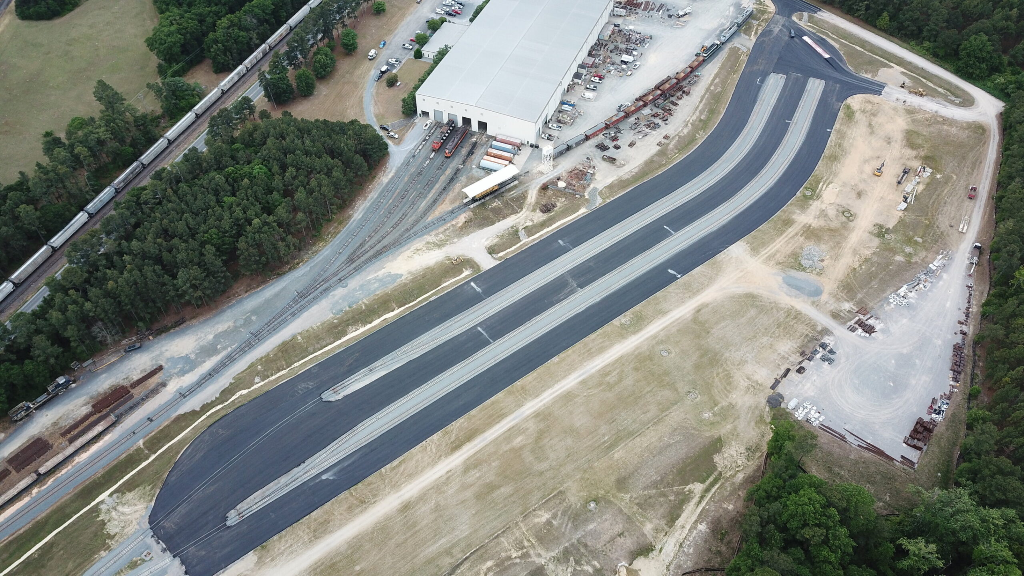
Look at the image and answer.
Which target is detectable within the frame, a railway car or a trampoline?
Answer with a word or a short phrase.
railway car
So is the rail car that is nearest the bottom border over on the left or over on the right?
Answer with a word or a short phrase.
left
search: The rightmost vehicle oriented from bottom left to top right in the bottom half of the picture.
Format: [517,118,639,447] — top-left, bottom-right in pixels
[787,394,800,410]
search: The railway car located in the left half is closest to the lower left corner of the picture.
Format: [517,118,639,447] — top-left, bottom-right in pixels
[0,469,37,499]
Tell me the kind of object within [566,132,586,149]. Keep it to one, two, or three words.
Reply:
rail car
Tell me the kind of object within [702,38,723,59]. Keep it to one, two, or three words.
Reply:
rail car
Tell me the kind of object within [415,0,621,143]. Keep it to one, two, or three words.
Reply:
warehouse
